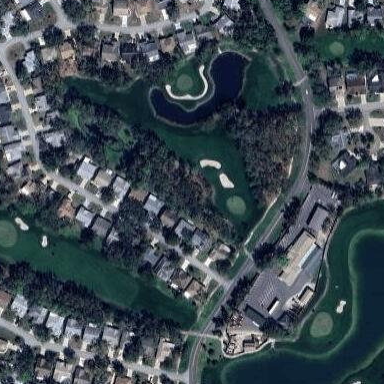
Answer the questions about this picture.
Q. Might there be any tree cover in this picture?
Yes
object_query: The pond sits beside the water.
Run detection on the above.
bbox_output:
[150,53,248,127]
